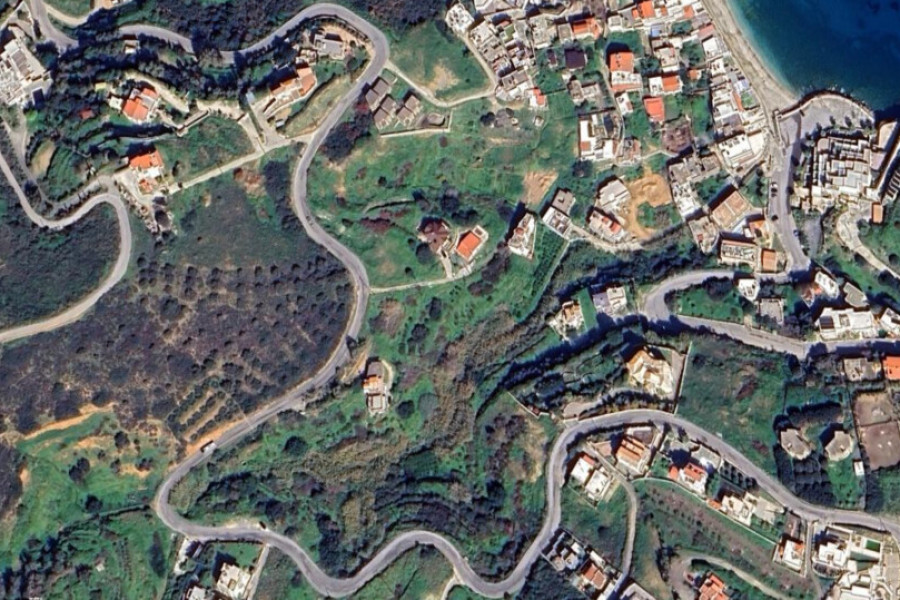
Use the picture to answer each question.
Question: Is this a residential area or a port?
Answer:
residential area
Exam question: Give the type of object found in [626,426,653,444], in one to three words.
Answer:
shed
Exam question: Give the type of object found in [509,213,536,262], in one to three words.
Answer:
building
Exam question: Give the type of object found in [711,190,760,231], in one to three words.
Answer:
building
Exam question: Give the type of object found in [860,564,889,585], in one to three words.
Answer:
house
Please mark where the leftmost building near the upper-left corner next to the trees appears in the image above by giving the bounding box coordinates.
[0,26,54,108]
